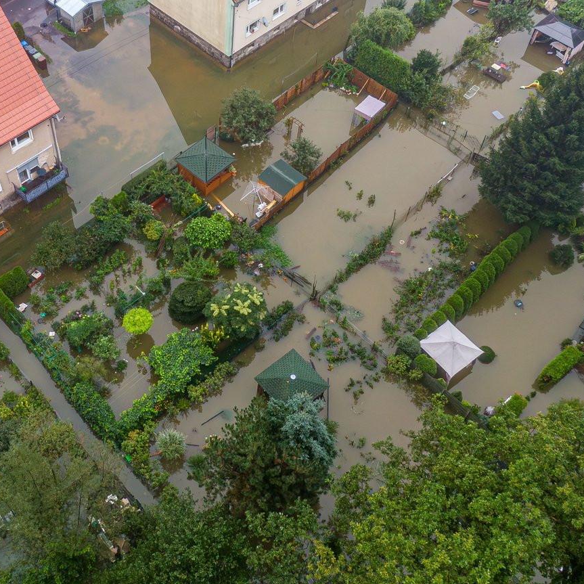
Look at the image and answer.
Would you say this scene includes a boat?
No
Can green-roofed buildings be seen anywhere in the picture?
Yes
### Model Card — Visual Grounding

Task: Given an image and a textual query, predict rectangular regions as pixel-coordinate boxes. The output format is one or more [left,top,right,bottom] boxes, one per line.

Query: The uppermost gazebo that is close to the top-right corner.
[528,13,584,67]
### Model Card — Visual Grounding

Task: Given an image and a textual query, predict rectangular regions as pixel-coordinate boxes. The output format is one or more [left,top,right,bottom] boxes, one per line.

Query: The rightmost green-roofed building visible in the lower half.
[254,348,329,405]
